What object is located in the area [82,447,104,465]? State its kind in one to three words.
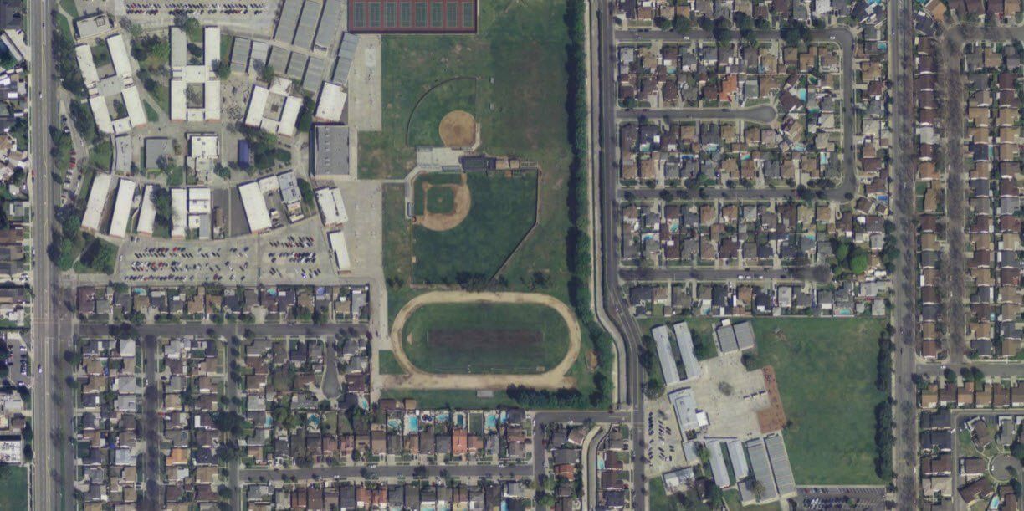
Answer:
house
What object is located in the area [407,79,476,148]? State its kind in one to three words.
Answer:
baseball field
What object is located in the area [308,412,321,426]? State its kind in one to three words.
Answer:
swimming pool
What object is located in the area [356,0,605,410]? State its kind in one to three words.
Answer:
sports field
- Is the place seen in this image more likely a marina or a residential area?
residential area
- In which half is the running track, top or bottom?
bottom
